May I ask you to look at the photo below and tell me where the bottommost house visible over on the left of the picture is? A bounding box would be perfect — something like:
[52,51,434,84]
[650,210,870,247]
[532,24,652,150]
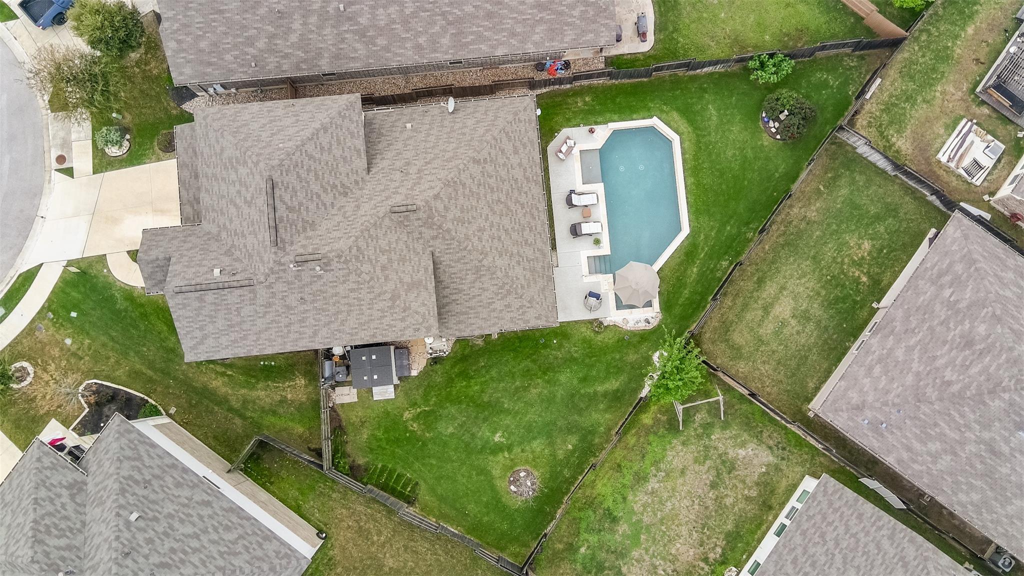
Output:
[0,411,320,576]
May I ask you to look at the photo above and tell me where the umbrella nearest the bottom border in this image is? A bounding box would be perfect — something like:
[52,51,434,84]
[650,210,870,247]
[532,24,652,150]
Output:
[614,261,660,307]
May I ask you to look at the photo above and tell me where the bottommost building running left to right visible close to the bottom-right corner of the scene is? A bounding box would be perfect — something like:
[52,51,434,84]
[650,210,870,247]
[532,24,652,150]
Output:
[739,473,976,576]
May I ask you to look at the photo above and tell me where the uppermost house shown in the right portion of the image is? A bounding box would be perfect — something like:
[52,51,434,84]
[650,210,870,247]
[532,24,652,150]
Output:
[987,157,1024,228]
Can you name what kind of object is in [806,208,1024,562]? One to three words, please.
house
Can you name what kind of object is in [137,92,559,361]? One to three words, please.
house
